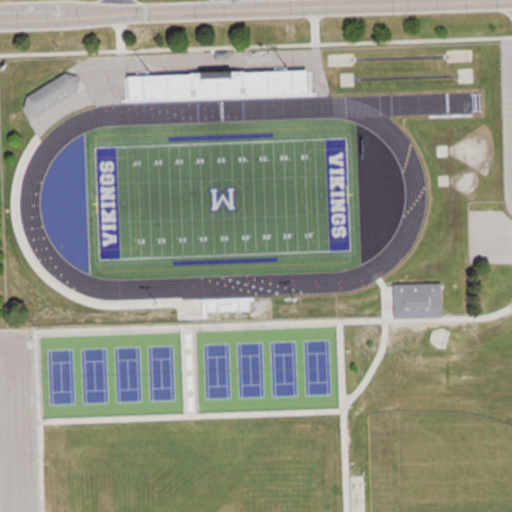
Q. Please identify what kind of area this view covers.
sports ground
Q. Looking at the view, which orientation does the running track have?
from left to right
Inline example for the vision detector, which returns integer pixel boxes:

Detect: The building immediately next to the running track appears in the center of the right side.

[394,284,443,318]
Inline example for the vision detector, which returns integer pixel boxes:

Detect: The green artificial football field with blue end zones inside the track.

[84,118,362,280]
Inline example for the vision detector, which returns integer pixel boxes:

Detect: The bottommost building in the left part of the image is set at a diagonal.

[22,73,78,116]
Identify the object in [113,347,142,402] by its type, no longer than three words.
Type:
tennis court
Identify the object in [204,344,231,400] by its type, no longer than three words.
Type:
tennis court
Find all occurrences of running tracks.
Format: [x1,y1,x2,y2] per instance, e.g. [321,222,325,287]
[20,92,471,300]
